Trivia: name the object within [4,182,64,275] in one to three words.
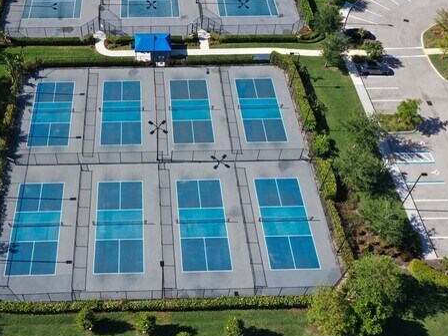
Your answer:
sports court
